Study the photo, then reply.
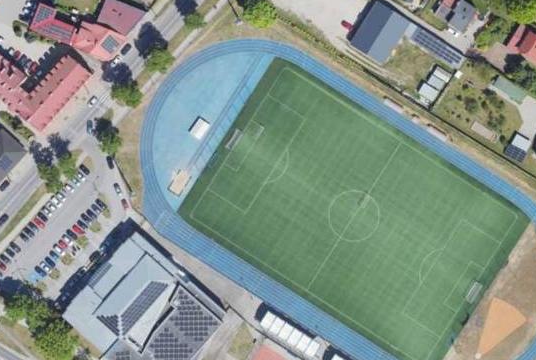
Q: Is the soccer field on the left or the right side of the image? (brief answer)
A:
right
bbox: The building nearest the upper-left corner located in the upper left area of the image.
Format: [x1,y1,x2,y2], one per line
[29,1,77,45]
